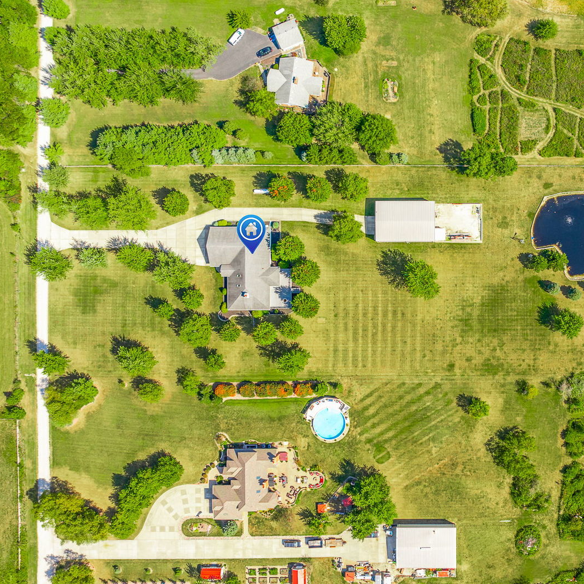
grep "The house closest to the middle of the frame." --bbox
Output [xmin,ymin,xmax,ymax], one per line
[207,226,280,310]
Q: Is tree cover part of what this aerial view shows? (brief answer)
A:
Yes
